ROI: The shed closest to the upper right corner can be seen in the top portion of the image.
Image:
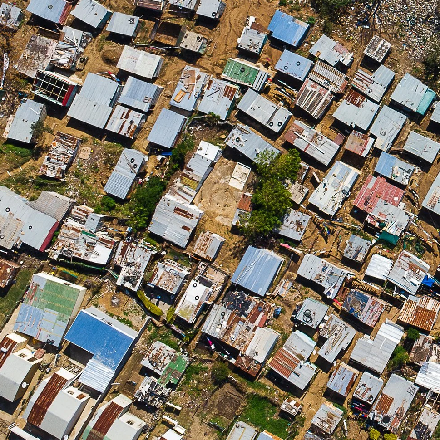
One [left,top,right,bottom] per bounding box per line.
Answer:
[365,35,391,62]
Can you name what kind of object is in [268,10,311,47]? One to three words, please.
shed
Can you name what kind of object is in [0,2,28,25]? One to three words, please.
shed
